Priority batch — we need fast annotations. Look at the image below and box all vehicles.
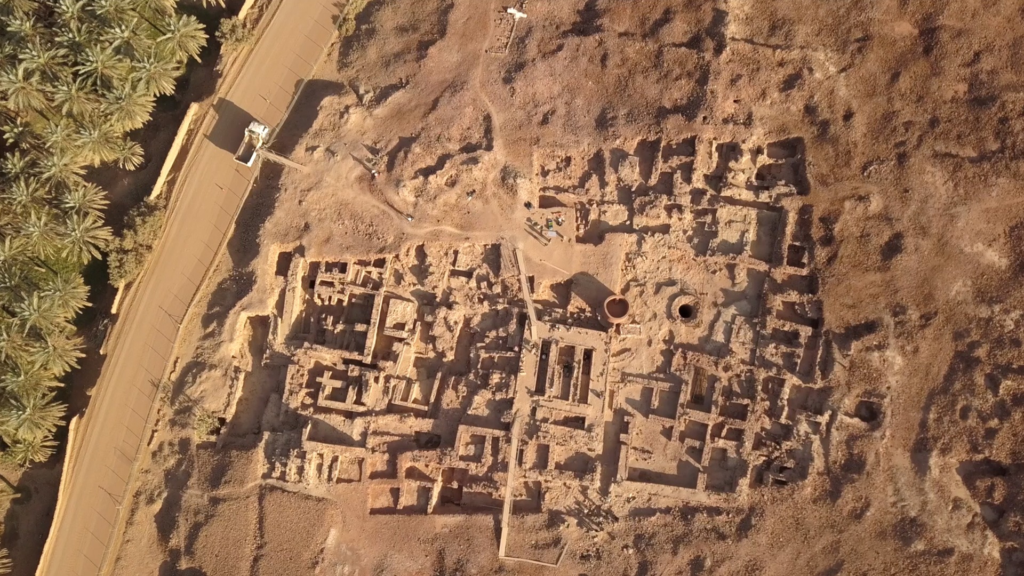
[229,121,267,165]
